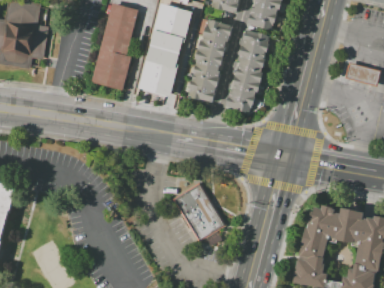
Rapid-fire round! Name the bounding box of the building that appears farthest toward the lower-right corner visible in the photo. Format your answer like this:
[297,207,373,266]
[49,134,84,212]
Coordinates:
[294,205,384,288]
